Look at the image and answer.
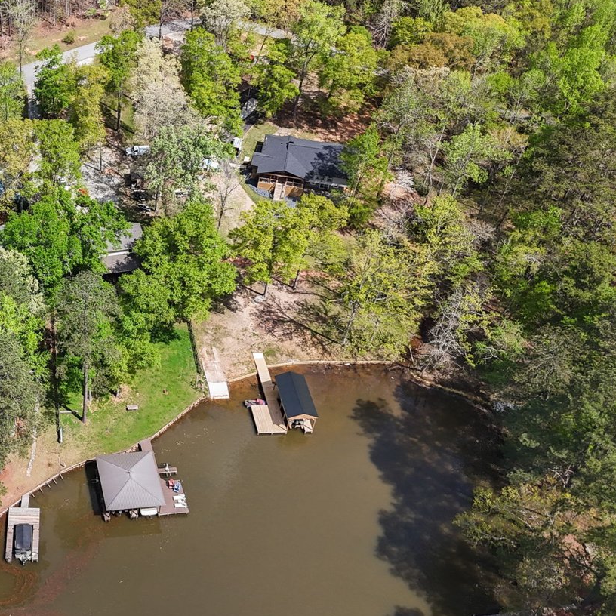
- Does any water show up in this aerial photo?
Yes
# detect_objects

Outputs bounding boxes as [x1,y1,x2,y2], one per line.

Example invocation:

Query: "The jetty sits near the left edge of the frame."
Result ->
[5,506,41,565]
